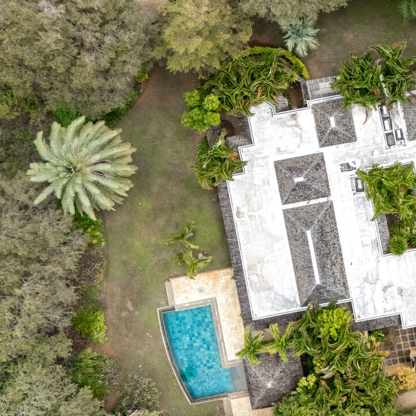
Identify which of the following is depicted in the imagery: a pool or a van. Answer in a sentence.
Of the two, only a pool appears.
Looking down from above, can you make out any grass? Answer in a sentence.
Yes, grass can be seen from above here.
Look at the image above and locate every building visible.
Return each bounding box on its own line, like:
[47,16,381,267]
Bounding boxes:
[243,347,308,410]
[218,88,416,374]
